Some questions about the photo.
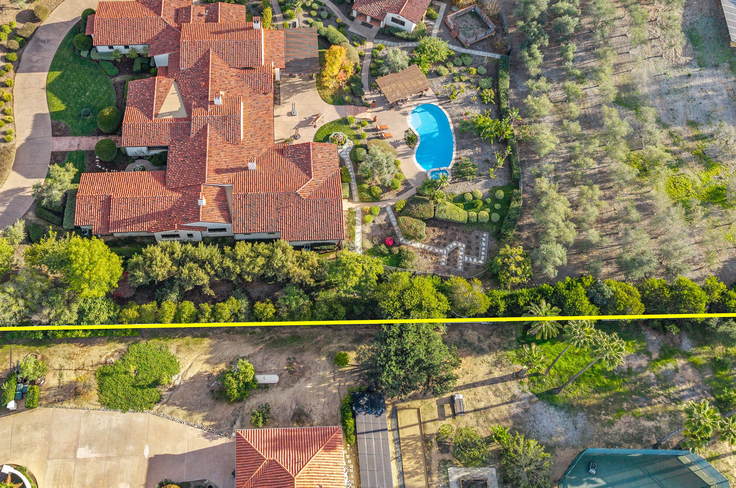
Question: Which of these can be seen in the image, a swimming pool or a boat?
swimming pool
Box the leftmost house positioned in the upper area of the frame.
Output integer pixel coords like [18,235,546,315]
[75,0,346,250]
